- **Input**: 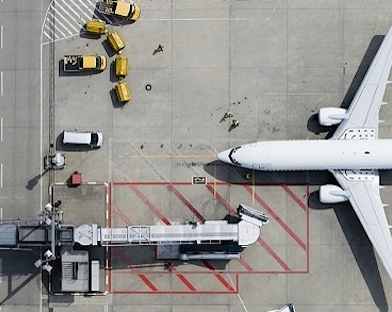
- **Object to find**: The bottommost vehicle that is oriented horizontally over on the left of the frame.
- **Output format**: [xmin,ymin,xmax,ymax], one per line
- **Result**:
[62,130,103,149]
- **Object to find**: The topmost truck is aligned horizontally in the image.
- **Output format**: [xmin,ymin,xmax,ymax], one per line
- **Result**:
[97,0,142,22]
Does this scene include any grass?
No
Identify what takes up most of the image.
paved ground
